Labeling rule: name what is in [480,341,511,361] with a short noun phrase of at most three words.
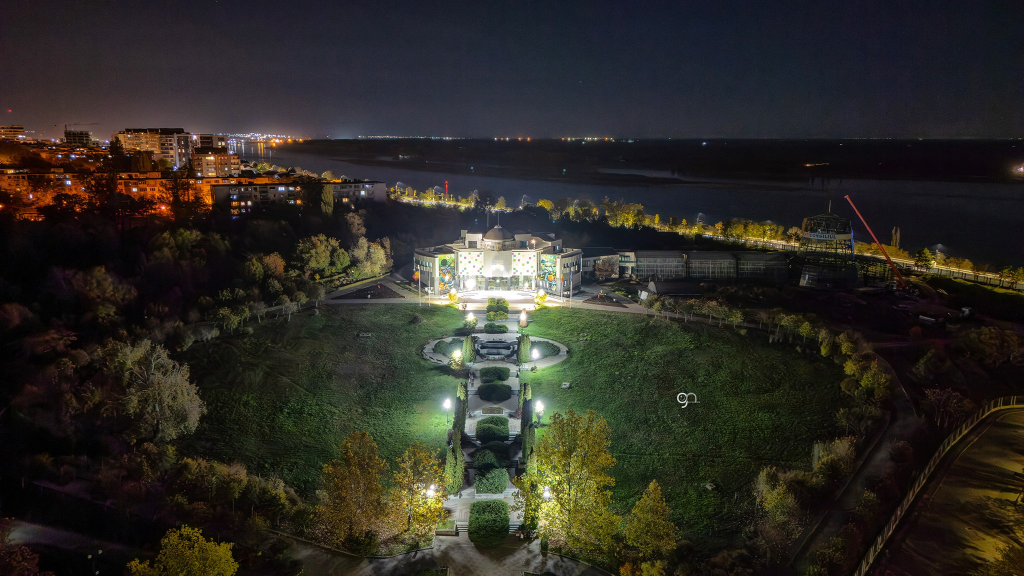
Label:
fountain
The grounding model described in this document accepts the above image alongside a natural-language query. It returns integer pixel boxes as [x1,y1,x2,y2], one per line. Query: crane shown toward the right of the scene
[838,194,925,292]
